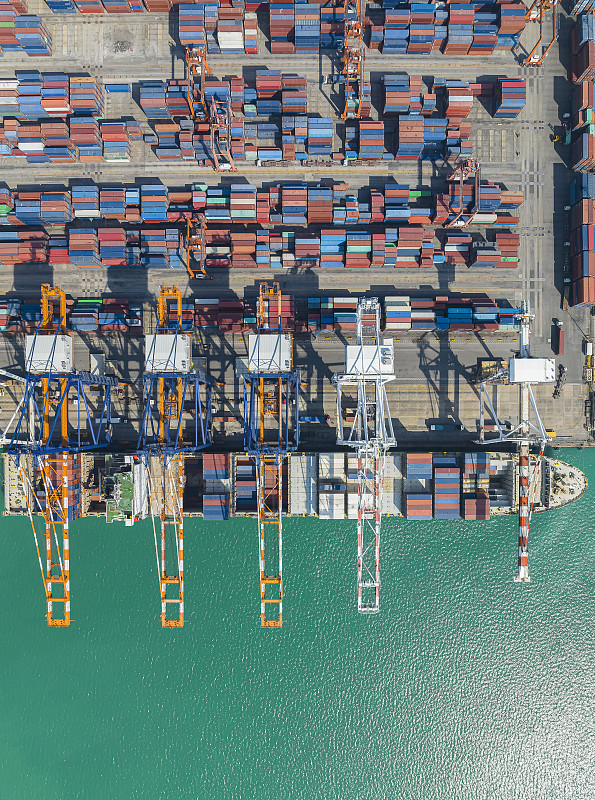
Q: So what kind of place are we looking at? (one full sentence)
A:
What you see here is a port.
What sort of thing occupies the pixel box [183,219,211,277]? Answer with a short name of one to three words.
container crane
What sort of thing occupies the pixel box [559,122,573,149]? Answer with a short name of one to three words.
work vehicle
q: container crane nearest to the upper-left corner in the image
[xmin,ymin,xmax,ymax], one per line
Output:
[186,48,212,116]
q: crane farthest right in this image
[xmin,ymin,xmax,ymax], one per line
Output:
[525,0,561,62]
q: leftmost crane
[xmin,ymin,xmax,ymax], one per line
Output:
[0,376,44,448]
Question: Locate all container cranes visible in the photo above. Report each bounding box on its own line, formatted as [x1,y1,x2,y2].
[525,0,561,62]
[447,161,480,228]
[213,102,237,170]
[186,48,212,116]
[468,290,559,587]
[242,283,308,627]
[341,0,365,64]
[137,283,224,627]
[7,283,126,626]
[340,48,366,116]
[183,219,211,277]
[326,296,400,612]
